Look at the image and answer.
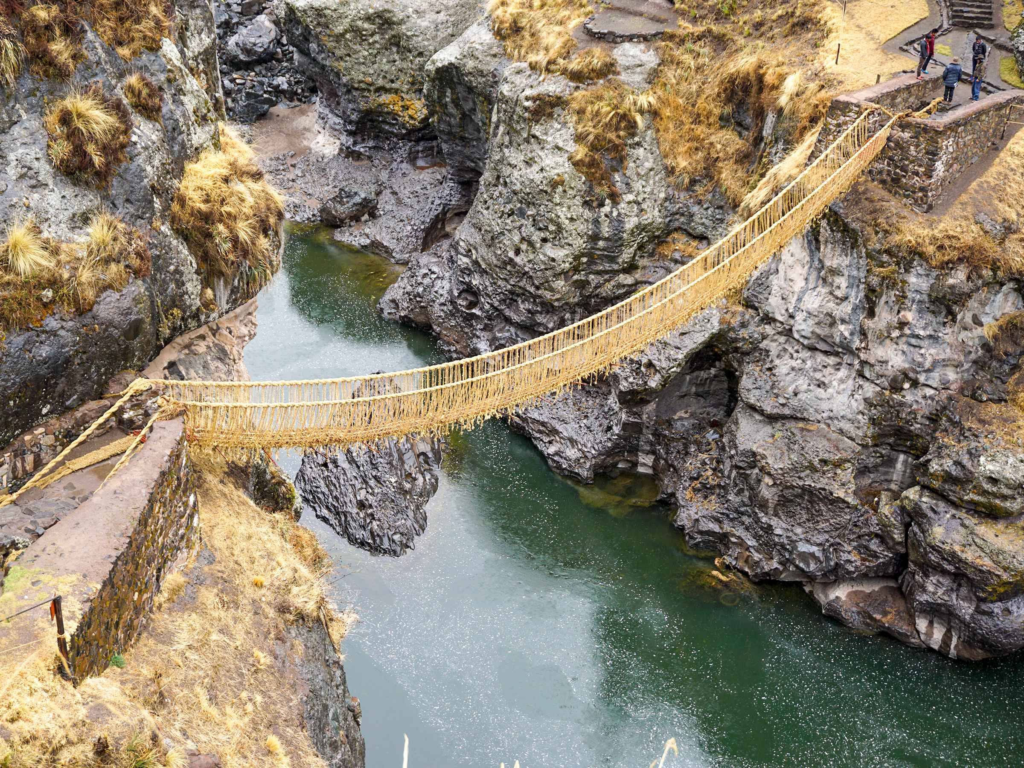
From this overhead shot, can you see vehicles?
No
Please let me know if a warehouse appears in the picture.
No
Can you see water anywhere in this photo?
Yes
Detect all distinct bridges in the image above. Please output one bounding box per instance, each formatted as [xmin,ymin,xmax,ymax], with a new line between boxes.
[0,95,952,506]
